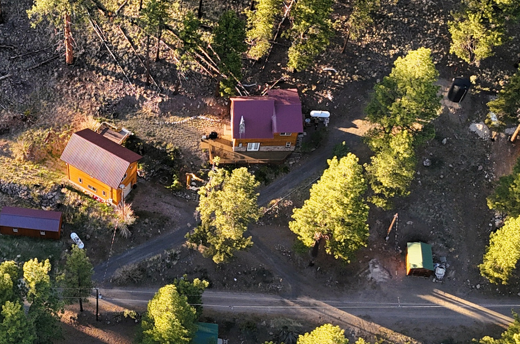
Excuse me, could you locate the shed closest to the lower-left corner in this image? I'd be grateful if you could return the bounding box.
[0,205,61,239]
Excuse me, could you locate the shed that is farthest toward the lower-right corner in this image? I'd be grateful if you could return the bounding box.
[404,239,433,277]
